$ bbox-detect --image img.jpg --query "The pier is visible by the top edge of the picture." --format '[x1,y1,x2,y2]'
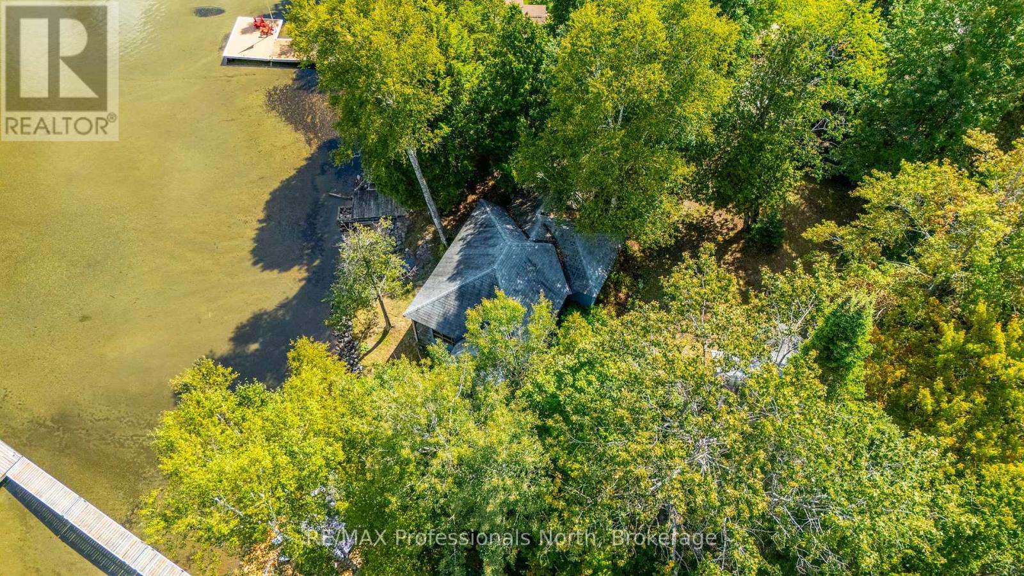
[211,14,318,71]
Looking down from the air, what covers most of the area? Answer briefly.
trees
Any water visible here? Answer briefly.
Yes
